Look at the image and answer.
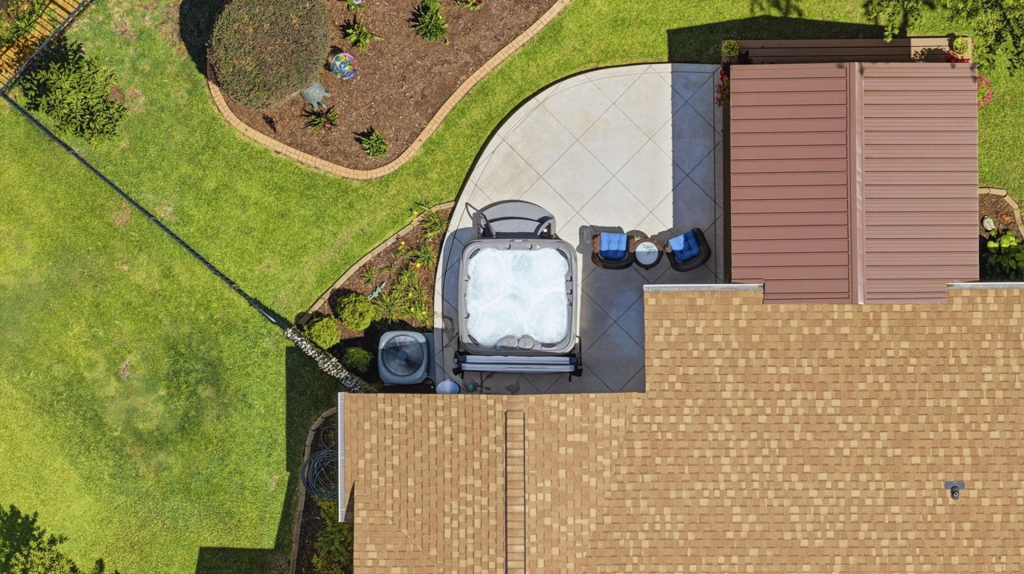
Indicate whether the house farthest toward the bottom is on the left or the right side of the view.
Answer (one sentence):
The house farthest toward the bottom is on the right side of the image.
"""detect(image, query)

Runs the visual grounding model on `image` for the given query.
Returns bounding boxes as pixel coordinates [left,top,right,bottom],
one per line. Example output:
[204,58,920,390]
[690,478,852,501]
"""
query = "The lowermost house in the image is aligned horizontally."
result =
[339,283,1024,574]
